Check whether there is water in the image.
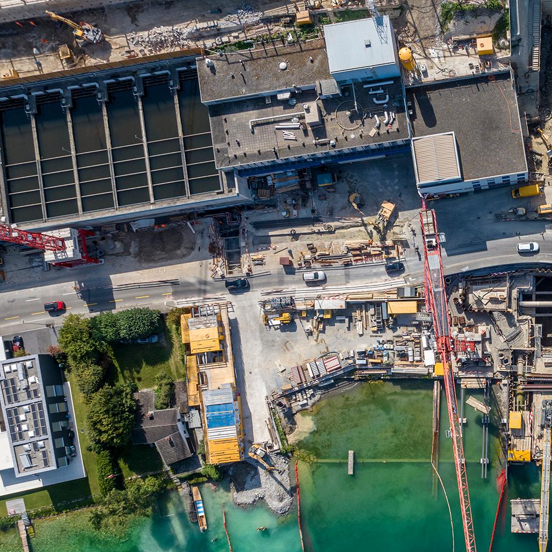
Yes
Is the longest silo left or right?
right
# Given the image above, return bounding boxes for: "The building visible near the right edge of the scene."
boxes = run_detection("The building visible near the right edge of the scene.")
[405,75,527,204]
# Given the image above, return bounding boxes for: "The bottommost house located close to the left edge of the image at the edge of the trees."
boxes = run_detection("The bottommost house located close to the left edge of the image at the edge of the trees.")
[0,355,87,496]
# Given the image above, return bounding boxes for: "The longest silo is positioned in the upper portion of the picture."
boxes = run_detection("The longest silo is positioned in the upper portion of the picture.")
[399,47,421,81]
